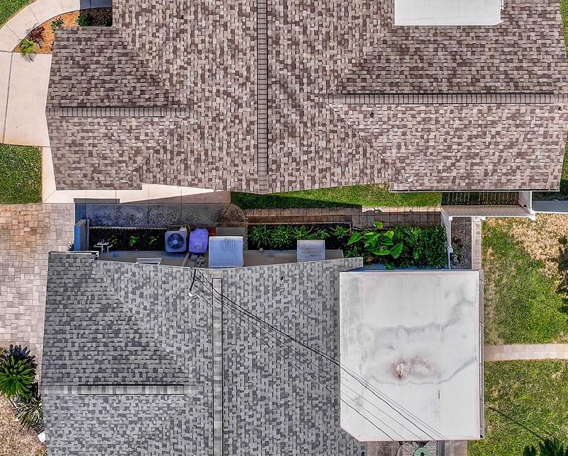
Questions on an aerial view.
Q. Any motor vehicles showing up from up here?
No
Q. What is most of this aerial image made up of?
buildings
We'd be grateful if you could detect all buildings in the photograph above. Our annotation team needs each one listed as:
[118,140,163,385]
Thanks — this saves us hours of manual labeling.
[48,0,568,194]
[42,235,484,456]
